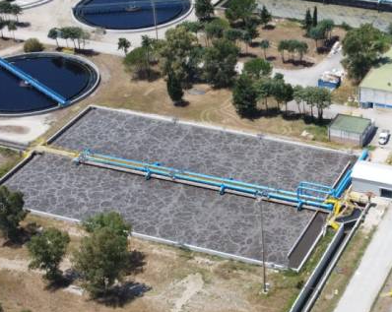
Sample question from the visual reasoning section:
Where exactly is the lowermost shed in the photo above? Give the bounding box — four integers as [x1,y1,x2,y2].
[349,159,392,198]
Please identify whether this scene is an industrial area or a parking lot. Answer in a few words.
industrial area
